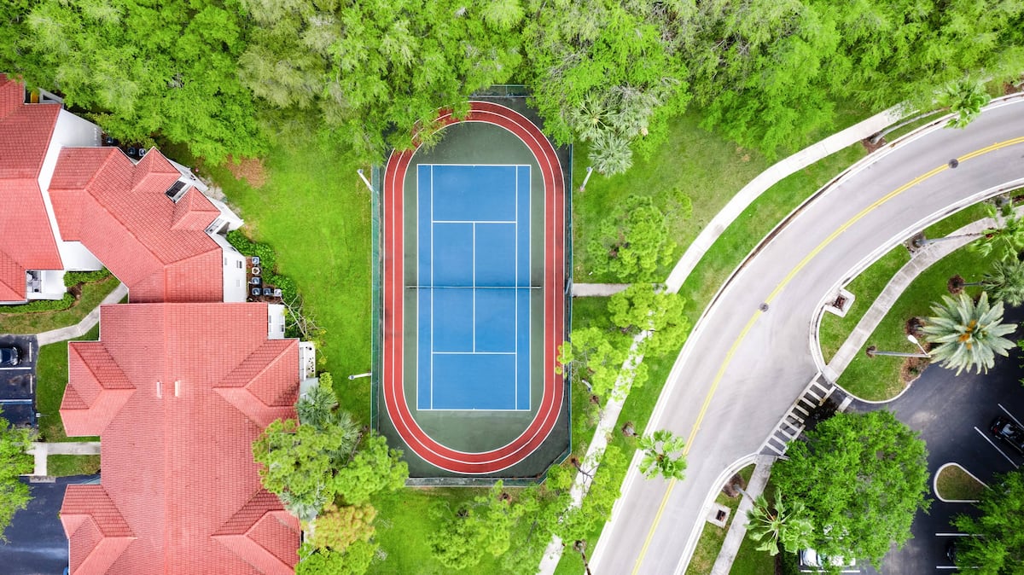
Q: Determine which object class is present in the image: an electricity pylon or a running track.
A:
running track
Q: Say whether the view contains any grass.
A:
Yes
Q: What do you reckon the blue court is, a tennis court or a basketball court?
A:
tennis court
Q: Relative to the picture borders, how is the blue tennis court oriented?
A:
up and down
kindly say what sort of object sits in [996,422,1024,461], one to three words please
car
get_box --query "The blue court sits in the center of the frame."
[417,164,531,411]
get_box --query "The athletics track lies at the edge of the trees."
[384,101,564,474]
